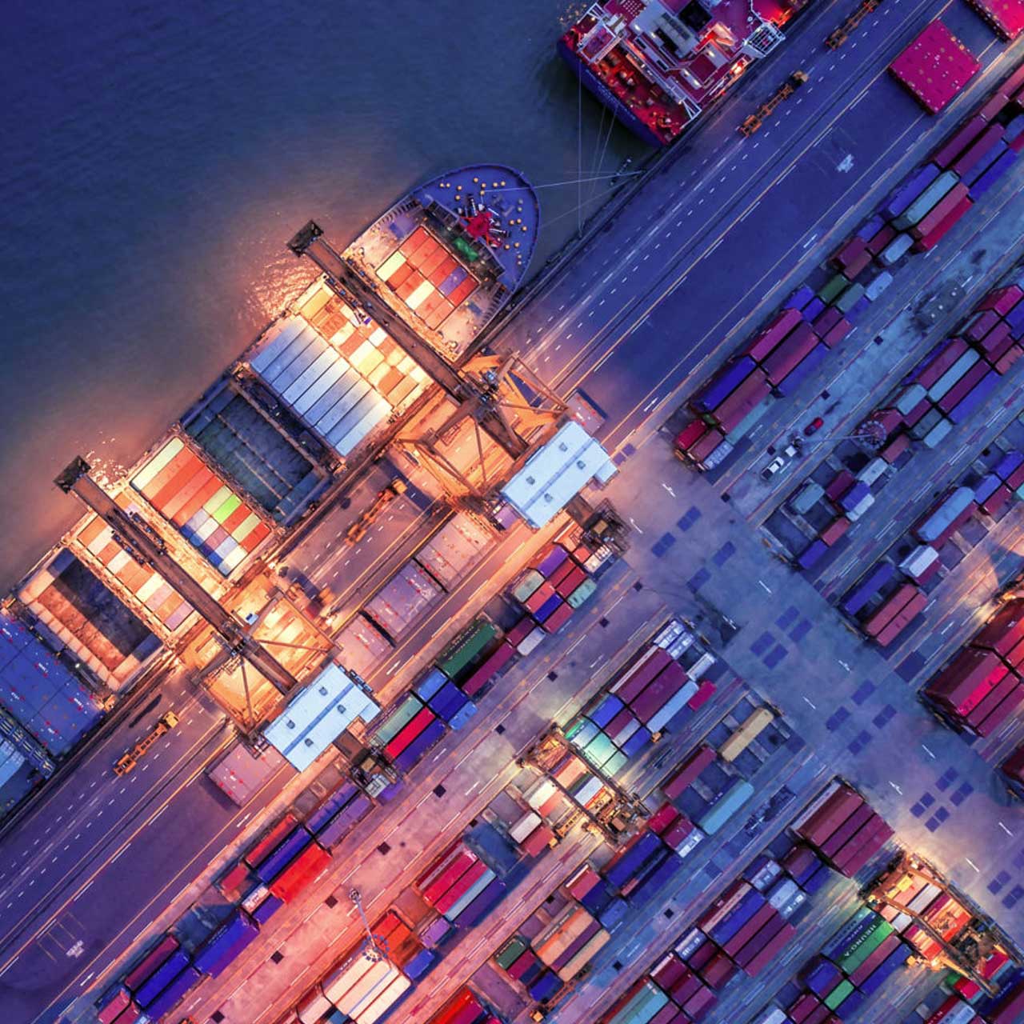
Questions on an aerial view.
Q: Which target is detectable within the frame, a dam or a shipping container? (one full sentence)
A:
The one in the frame is a shipping container.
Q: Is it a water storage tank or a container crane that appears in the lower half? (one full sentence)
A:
Visible in the lower half is a container crane.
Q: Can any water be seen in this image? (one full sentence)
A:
Yes, water can be seen from above here.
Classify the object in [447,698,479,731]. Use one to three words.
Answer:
shipping container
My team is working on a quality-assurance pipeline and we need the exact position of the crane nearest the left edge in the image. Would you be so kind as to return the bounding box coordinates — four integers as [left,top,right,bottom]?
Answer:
[47,450,404,801]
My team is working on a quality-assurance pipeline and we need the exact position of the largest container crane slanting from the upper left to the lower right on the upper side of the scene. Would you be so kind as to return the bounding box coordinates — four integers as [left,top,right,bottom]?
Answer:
[280,211,637,563]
